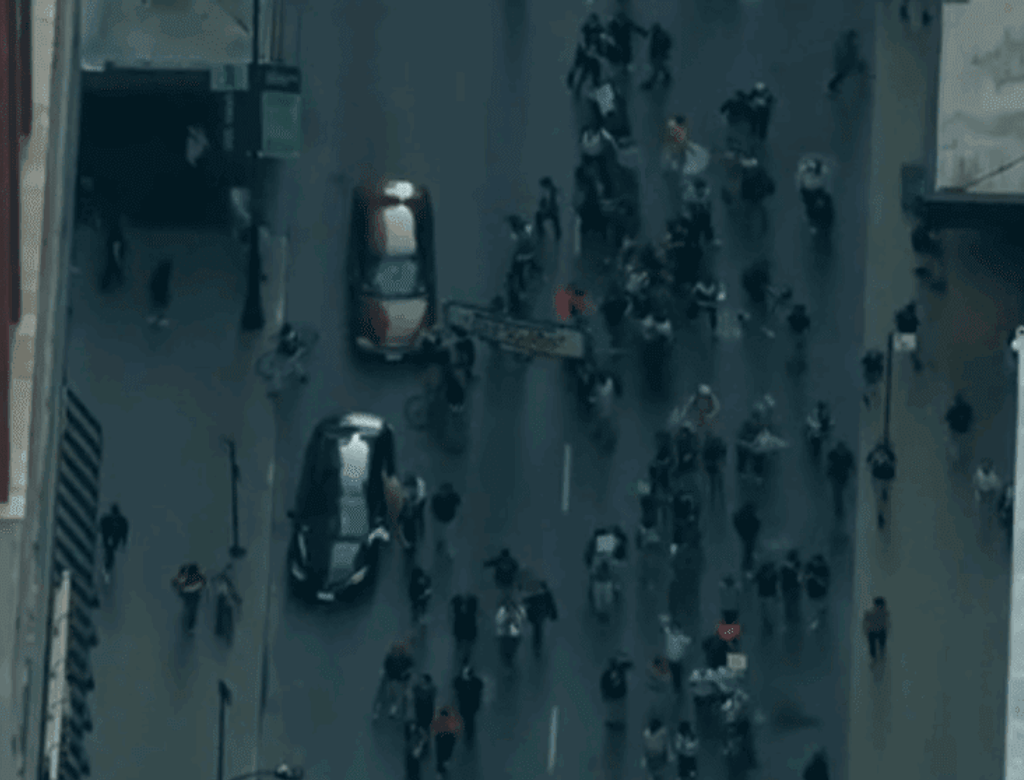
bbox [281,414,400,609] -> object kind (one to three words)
car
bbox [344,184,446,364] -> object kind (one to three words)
car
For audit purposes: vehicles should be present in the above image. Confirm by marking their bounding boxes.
[281,414,400,609]
[344,184,446,364]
